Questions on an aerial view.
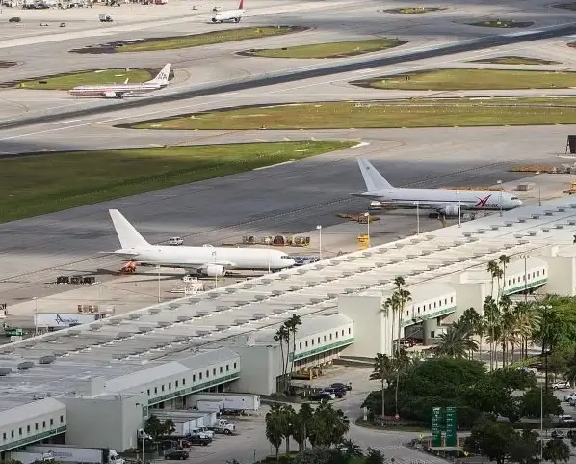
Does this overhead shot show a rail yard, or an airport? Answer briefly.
airport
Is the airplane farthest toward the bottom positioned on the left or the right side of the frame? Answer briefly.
left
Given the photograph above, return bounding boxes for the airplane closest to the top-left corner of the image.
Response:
[71,70,169,100]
